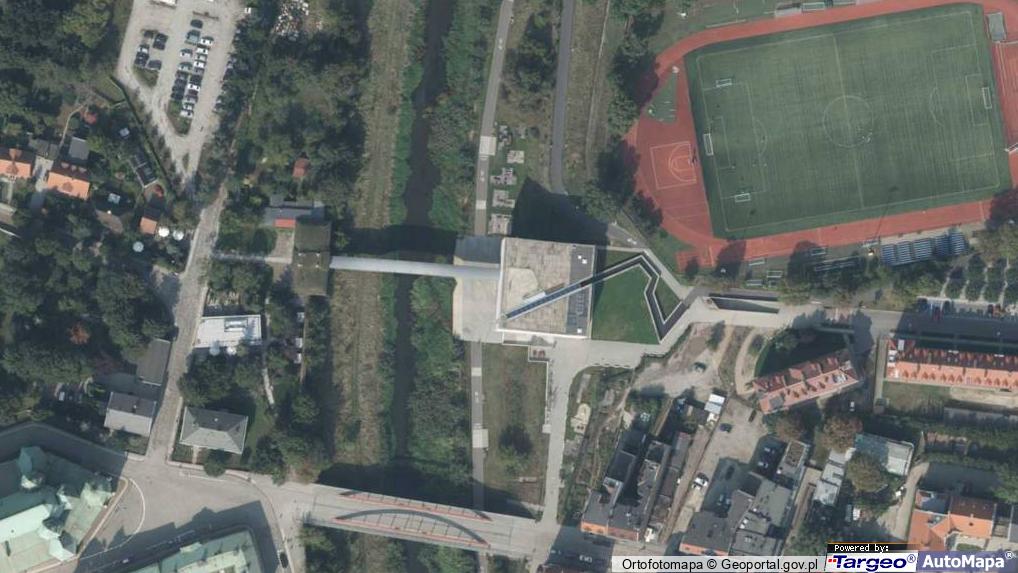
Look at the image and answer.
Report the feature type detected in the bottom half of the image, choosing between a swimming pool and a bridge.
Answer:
bridge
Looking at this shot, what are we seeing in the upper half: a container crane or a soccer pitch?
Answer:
soccer pitch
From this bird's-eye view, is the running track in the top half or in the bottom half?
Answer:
top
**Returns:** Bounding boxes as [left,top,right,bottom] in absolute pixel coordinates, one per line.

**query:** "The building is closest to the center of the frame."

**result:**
[496,237,596,338]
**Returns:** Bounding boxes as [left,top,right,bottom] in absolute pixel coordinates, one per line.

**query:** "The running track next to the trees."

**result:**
[624,0,1018,273]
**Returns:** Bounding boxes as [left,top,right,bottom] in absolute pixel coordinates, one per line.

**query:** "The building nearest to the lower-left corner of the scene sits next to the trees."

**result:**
[0,455,119,573]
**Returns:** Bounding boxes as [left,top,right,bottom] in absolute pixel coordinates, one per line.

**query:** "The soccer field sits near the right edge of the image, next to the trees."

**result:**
[686,3,1012,240]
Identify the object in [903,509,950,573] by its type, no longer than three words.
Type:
house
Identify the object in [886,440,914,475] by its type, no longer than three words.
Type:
building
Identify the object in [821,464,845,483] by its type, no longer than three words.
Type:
shed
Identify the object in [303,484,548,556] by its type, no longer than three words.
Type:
bridge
